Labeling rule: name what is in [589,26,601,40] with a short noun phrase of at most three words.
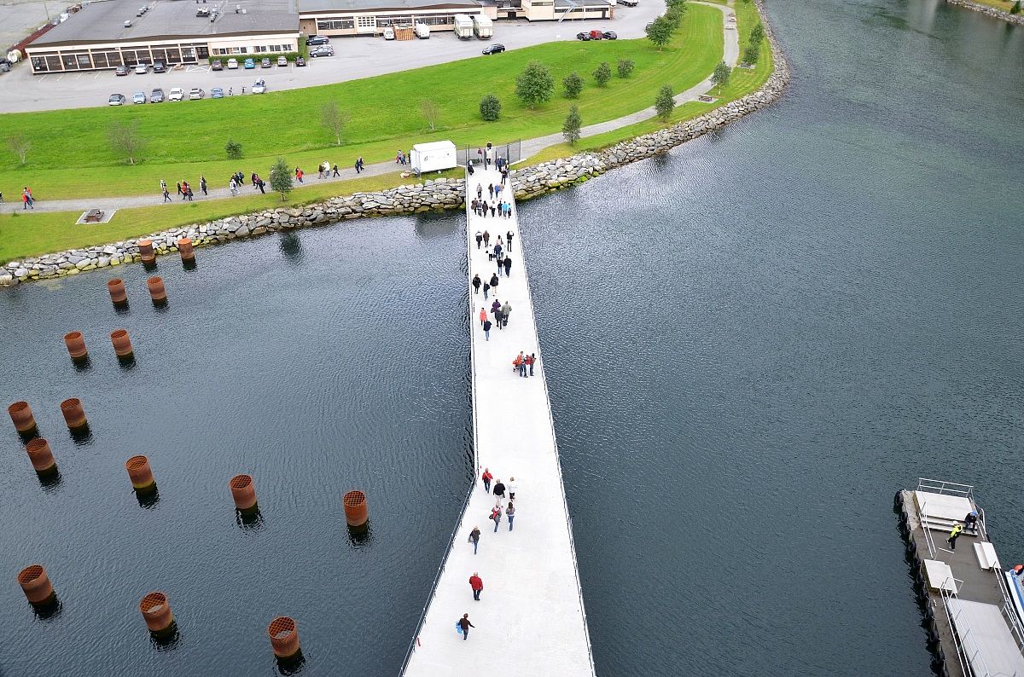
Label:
vehicle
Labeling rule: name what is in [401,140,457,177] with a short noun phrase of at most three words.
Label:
trailer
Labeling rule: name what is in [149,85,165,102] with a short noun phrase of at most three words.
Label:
car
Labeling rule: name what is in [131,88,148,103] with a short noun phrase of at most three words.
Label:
car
